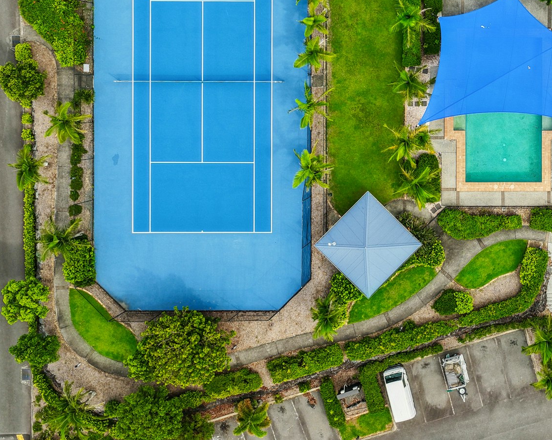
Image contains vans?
Yes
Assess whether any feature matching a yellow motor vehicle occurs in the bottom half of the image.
No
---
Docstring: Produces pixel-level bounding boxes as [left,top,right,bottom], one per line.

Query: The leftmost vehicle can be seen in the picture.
[381,360,415,429]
